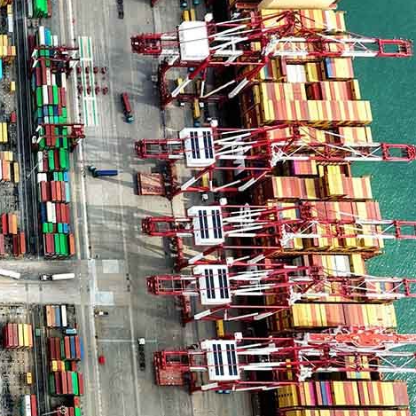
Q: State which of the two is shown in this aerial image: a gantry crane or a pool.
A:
gantry crane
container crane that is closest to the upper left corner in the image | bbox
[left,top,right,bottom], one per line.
[21,48,80,84]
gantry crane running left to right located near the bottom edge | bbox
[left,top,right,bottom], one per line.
[148,329,416,398]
